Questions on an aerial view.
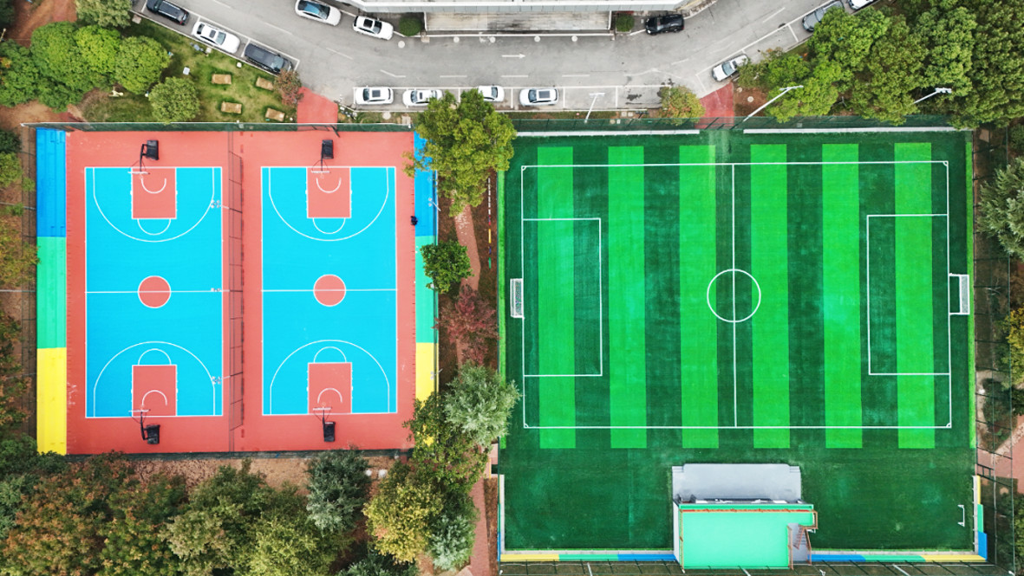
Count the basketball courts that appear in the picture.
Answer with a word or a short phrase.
2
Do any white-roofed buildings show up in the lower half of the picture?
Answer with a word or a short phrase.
No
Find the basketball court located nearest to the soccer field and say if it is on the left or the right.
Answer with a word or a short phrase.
left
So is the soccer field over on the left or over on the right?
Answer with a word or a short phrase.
right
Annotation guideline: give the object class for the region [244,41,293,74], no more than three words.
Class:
car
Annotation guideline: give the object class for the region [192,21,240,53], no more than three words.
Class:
car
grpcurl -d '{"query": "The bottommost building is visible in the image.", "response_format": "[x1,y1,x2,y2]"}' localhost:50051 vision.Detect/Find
[673,494,817,572]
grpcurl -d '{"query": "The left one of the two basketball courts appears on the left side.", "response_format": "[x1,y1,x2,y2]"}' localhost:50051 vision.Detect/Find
[66,132,242,454]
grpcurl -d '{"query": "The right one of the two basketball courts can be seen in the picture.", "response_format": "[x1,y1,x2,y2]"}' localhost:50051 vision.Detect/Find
[242,132,415,452]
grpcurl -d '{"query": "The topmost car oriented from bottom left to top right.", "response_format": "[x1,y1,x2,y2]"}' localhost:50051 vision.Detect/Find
[801,0,844,33]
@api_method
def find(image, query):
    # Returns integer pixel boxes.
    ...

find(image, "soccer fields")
[499,128,977,556]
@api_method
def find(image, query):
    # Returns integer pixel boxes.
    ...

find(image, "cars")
[709,52,752,84]
[352,15,394,41]
[145,0,192,27]
[244,41,293,74]
[801,0,844,33]
[643,13,686,36]
[403,87,443,107]
[355,84,395,105]
[466,83,506,104]
[295,0,341,27]
[192,21,240,53]
[520,86,559,107]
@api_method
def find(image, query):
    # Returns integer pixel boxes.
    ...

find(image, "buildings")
[342,0,689,12]
[673,494,817,572]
